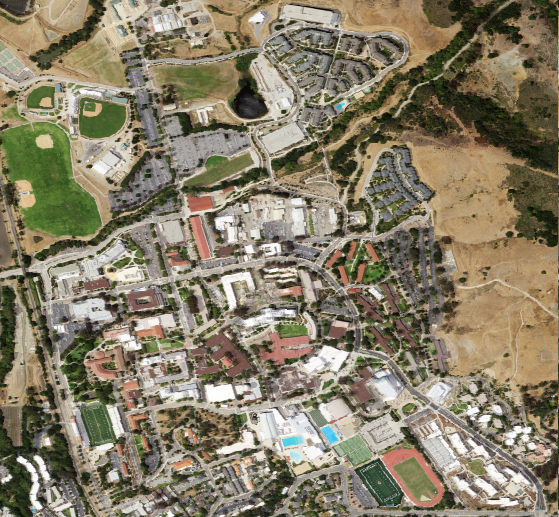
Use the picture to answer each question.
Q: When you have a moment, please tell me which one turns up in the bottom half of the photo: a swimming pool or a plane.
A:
swimming pool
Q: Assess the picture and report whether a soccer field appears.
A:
Yes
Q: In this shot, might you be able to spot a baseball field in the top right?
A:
No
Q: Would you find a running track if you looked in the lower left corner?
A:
No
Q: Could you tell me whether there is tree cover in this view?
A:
Yes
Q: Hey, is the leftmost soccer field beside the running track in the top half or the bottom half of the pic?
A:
bottom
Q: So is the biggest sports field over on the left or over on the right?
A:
left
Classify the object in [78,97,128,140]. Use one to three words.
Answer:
baseball field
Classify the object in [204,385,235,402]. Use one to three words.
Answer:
building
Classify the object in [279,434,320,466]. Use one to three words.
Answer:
swimming pool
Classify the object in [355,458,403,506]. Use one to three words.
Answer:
soccer field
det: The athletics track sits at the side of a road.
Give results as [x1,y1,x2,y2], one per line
[380,447,443,507]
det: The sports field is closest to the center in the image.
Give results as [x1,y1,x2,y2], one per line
[182,151,260,189]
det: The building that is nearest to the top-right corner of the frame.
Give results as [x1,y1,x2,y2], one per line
[367,35,403,67]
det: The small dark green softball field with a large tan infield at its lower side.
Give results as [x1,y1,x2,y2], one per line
[25,84,57,110]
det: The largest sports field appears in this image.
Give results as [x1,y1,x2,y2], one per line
[1,123,100,235]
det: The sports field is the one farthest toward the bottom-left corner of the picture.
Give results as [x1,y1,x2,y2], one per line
[80,404,116,445]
